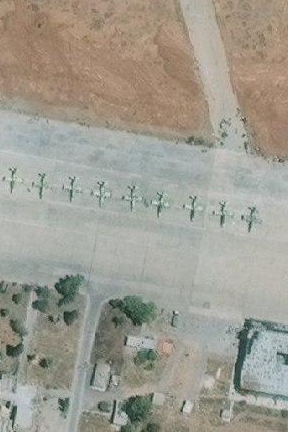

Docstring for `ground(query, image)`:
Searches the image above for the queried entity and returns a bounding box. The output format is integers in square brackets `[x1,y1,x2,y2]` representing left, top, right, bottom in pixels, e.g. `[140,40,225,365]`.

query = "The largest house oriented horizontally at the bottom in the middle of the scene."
[127,336,155,349]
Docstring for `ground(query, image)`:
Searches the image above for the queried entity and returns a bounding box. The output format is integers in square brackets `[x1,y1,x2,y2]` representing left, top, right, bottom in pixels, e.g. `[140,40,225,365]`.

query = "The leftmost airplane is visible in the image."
[3,166,22,191]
